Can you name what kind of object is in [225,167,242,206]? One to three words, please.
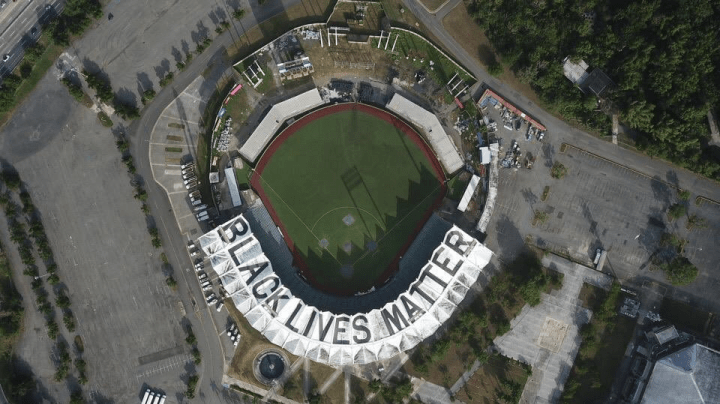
shed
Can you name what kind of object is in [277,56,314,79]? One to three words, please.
building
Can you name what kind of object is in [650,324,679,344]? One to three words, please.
building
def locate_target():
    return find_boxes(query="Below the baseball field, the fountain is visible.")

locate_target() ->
[252,348,290,385]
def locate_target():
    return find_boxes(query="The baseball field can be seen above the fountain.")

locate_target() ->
[250,103,447,296]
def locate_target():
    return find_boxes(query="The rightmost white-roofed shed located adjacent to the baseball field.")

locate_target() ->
[457,174,480,212]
